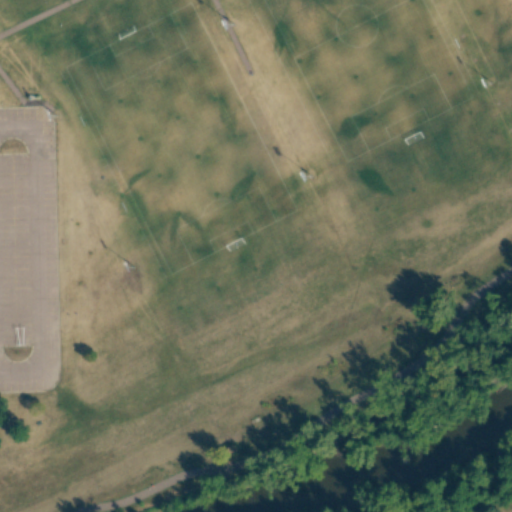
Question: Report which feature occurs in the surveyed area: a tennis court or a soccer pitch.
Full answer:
The image shows a soccer pitch.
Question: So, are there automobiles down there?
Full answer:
No, this view has no automobile in it.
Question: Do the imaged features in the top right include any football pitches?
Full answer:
Yes, a football pitch can be seen in the top right.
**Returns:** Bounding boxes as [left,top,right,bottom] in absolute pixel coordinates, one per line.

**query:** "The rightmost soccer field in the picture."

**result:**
[457,0,512,109]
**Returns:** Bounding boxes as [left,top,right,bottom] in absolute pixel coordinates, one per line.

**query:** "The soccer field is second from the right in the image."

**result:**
[269,0,476,161]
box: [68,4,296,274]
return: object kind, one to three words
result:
soccer field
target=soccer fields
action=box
[68,4,296,274]
[457,0,512,109]
[269,0,476,161]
